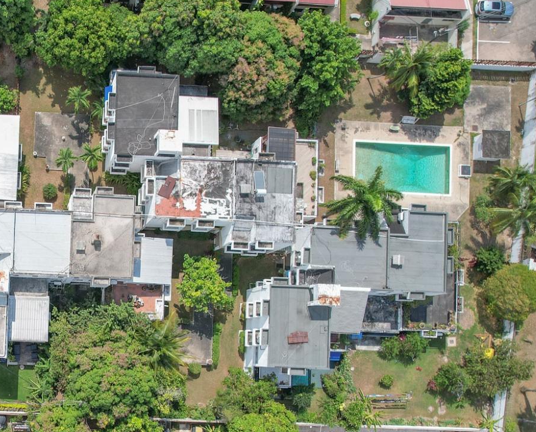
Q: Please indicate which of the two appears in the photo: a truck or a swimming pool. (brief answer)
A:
swimming pool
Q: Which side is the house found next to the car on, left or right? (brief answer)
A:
right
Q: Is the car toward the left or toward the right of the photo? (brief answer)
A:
right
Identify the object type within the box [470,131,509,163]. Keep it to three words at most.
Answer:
shed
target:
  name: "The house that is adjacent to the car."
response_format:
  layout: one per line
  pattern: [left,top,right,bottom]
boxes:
[362,0,471,72]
